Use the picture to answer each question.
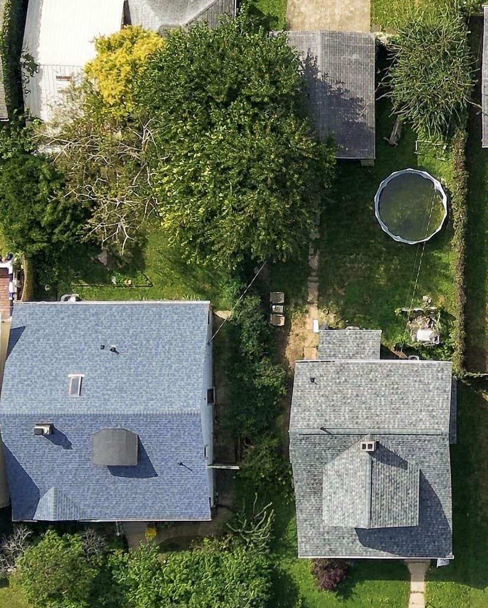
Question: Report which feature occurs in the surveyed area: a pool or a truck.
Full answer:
Looking from above, you can make out a pool.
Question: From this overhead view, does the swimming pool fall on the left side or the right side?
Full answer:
It is on the right.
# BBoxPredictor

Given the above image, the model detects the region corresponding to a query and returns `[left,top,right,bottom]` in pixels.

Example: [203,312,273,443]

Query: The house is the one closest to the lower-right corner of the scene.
[288,329,457,566]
